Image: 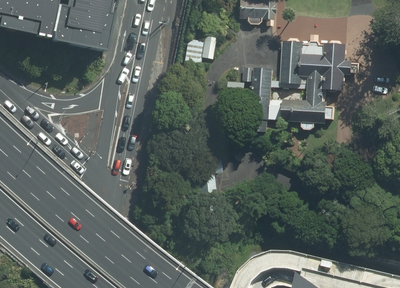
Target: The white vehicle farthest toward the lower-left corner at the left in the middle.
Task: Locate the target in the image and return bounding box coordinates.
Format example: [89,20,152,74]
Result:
[70,160,86,174]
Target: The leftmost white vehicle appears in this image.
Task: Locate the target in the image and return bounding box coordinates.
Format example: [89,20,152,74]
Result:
[2,99,18,114]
